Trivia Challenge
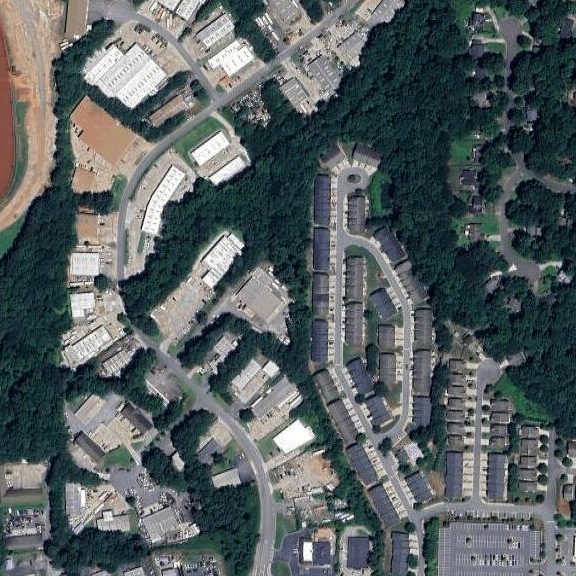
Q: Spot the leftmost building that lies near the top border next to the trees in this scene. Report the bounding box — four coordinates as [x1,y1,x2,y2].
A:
[64,0,90,36]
